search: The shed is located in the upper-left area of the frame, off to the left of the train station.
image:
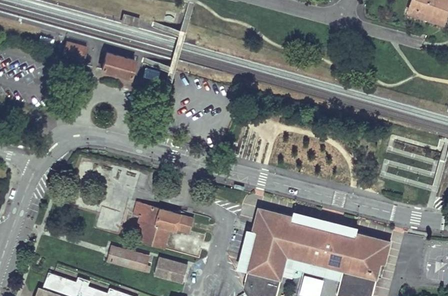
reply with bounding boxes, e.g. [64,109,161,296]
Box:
[62,42,88,60]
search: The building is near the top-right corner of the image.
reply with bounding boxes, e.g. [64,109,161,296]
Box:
[406,0,448,28]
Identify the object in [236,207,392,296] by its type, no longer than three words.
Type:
building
